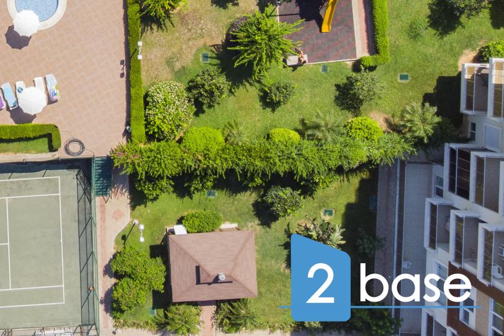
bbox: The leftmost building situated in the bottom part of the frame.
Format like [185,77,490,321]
[163,222,259,303]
